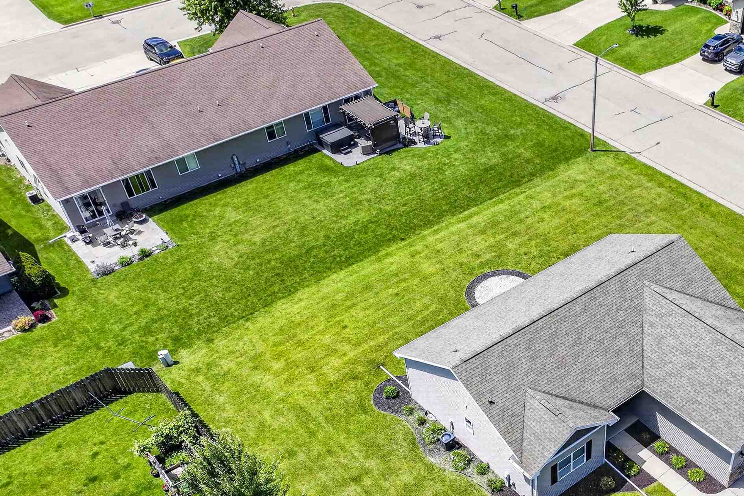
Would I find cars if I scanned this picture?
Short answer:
Yes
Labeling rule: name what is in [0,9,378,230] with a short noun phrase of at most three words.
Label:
house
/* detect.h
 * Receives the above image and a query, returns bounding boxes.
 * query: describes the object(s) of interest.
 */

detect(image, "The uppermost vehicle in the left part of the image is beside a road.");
[141,29,180,62]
